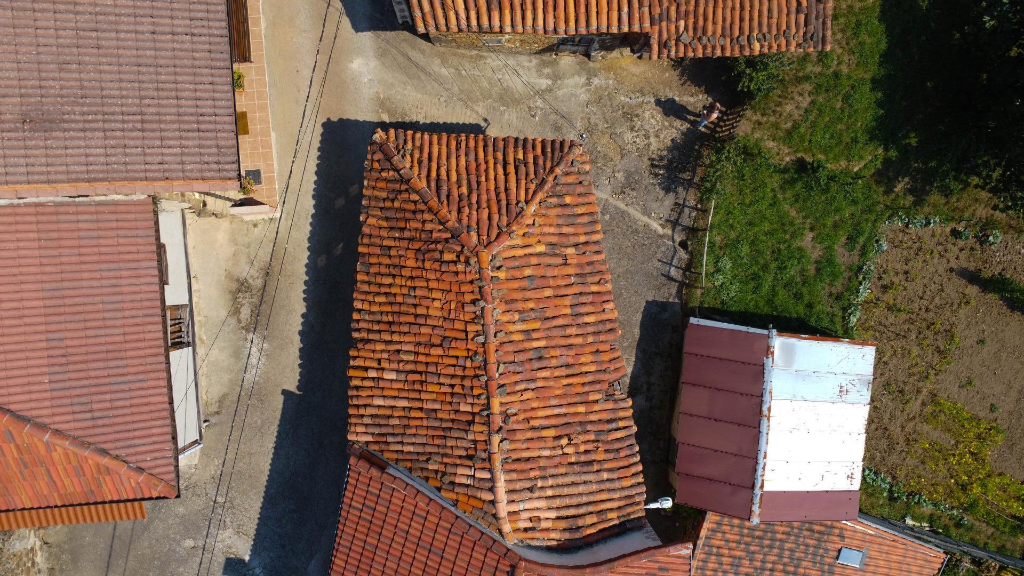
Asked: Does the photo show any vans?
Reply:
No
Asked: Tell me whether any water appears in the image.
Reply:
No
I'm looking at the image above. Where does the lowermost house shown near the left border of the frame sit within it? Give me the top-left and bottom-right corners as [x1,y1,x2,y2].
[0,197,211,532]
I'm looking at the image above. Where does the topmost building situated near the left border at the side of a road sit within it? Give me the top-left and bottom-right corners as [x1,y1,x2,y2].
[0,0,245,201]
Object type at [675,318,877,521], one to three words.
shed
